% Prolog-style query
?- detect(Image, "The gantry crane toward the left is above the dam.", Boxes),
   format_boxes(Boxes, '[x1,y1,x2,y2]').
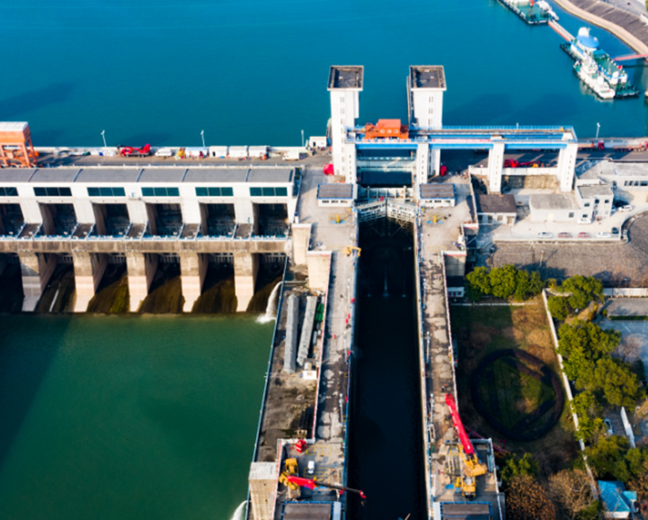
[0,119,43,167]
